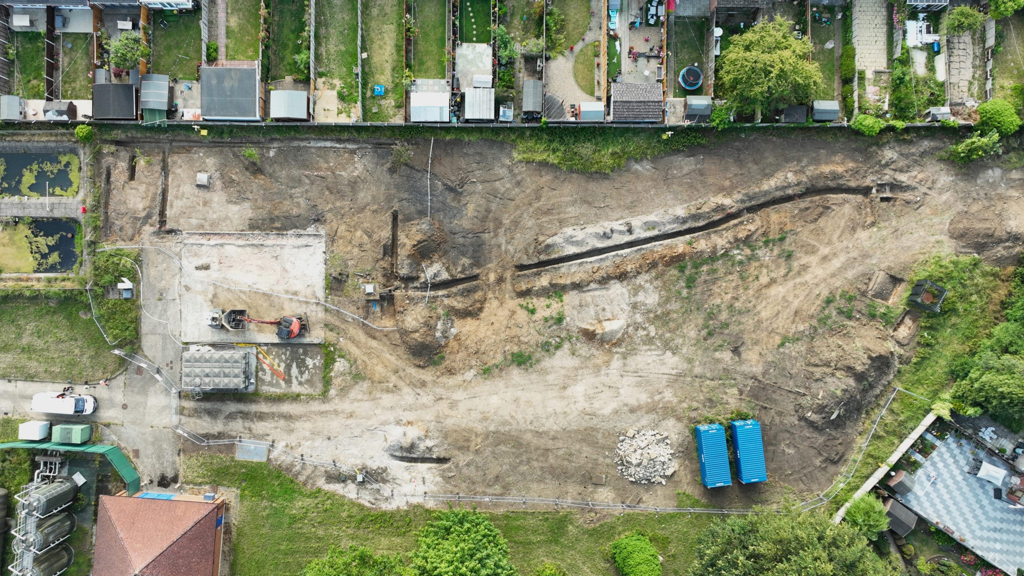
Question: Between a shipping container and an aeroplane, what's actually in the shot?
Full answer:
Of the two, only a shipping container appears.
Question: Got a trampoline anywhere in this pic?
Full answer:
Yes, there's a trampoline here.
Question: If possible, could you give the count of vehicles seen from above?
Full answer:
I count 3 vehicles.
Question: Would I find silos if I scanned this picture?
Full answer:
Yes, there's a silo down there.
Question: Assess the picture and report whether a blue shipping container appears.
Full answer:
Yes, the frame does contain a blue shipping container.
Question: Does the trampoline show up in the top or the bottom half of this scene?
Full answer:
The top half of the photo is where the trampoline is.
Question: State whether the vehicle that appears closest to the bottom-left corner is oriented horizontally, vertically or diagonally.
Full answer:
Seen from above, the vehicle that appears closest to the bottom-left corner lies horizontally.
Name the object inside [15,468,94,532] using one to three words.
silo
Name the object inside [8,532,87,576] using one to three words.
silo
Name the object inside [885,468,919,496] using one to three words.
shed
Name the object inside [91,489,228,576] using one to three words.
house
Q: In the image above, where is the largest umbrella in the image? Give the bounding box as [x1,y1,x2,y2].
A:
[977,461,1007,486]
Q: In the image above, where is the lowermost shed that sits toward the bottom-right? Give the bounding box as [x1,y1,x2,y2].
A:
[886,497,920,534]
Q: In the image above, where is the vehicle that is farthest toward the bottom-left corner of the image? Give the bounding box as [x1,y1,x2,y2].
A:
[31,389,100,414]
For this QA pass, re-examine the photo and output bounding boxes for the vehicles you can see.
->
[31,389,100,414]
[233,314,307,335]
[203,310,244,331]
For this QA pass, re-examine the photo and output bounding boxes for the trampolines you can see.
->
[679,62,707,91]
